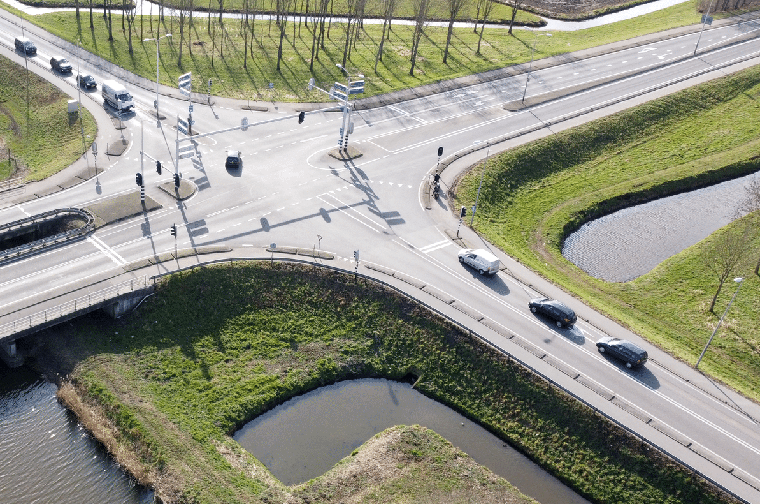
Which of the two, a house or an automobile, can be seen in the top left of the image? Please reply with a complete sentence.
The feature located in the top left of the image is an automobile.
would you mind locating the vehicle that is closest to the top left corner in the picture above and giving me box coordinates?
[13,33,40,54]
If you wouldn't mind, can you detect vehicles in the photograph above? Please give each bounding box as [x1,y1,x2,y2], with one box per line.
[102,78,138,112]
[225,146,242,164]
[48,53,77,73]
[527,296,582,330]
[595,335,652,370]
[13,33,40,54]
[73,71,99,90]
[455,246,504,278]
[434,182,443,199]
